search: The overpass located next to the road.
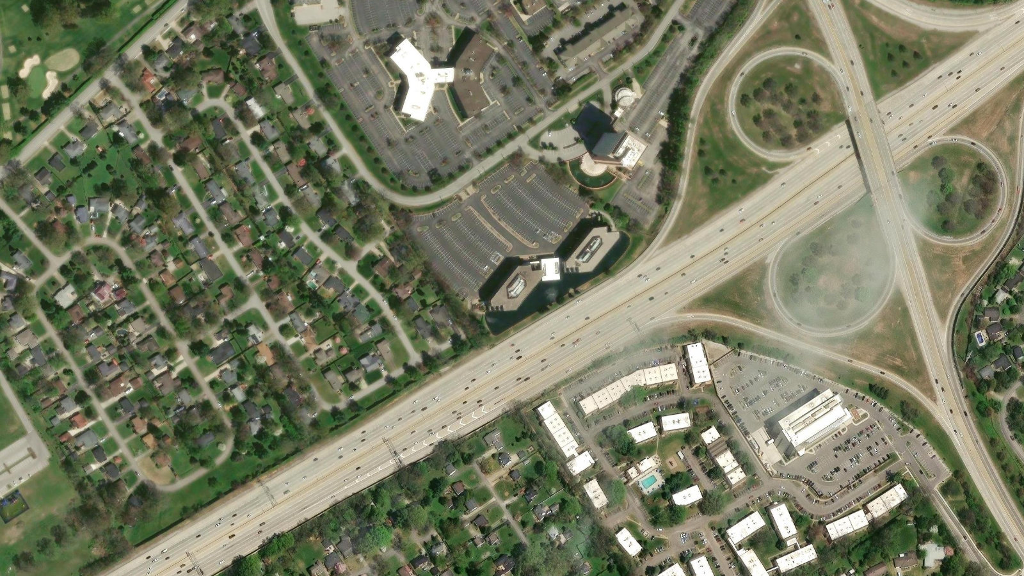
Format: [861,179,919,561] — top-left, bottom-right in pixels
[842,92,906,210]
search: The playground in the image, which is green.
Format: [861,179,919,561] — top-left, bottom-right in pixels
[0,490,29,524]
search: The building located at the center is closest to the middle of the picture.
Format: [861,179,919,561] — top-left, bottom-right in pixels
[485,266,542,313]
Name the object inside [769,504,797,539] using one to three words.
building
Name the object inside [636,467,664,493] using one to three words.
swimming pool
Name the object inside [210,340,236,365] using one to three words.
house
